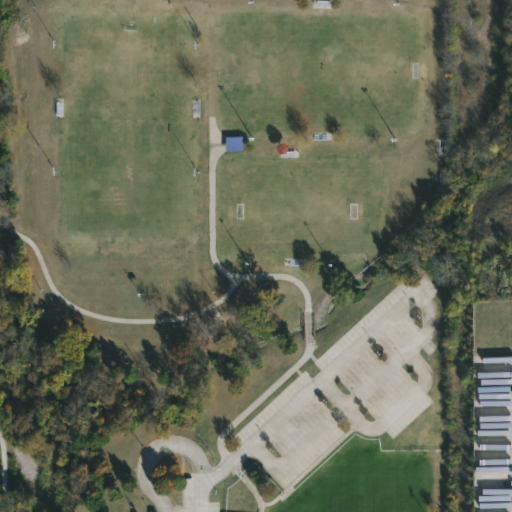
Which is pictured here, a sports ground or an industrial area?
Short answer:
sports ground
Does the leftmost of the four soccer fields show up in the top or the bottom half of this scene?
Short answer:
top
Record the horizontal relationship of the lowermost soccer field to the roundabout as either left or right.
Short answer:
to the right of it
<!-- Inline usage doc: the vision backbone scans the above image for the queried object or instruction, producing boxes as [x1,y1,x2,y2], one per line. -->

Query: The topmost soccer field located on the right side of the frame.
[217,12,421,140]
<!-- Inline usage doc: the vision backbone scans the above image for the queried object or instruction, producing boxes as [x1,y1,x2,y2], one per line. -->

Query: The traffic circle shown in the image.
[138,436,208,512]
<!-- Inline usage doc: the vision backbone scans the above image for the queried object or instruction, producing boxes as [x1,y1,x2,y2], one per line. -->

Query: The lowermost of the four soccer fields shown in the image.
[264,435,432,512]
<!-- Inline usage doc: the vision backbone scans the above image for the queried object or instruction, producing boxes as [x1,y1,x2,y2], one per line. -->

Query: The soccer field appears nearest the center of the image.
[217,157,386,256]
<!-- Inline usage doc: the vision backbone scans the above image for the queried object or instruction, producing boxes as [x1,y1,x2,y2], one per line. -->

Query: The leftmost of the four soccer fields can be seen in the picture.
[60,22,196,236]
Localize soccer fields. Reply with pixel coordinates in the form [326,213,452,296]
[217,157,386,256]
[60,22,196,236]
[217,12,421,140]
[264,435,432,512]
